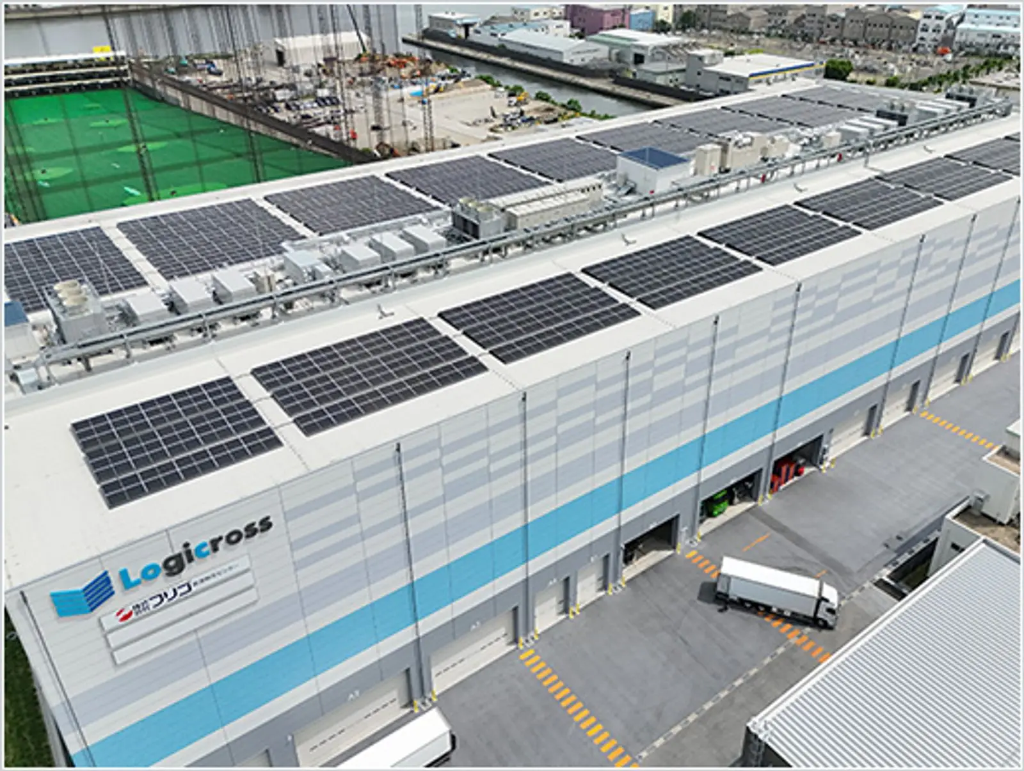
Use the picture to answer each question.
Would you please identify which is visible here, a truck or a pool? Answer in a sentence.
Looking from above, you can make out a truck.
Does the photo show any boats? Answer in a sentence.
No, there isn't any boat down there.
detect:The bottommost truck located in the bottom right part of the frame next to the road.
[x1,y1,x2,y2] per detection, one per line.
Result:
[715,557,841,632]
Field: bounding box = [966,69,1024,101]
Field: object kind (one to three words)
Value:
building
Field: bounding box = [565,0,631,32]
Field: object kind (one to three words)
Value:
building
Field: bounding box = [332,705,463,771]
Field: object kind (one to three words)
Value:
truck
